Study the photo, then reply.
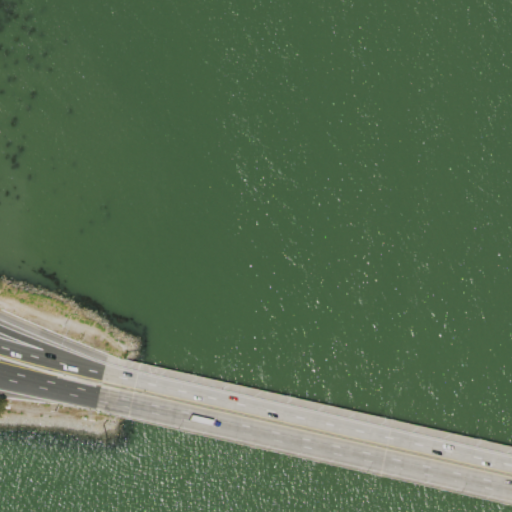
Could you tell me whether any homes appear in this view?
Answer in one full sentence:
No, the picture doesn't show any home.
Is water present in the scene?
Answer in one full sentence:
Yes, the picture does contain water.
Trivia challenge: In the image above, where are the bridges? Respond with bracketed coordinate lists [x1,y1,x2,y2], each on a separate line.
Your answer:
[95,354,512,506]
